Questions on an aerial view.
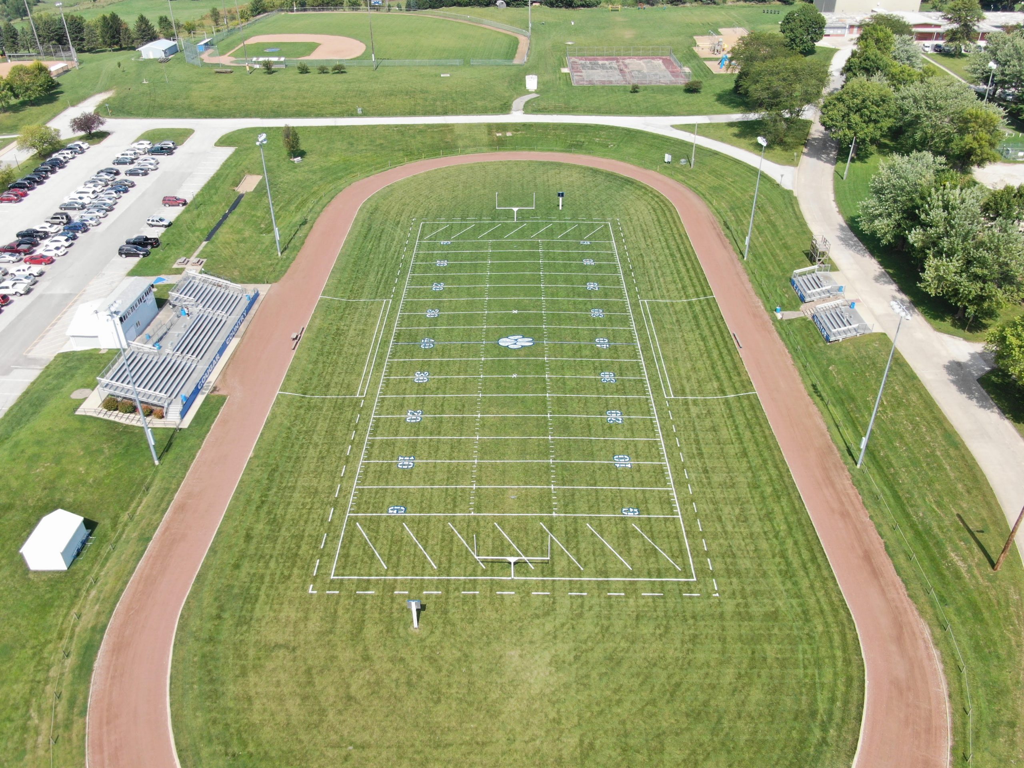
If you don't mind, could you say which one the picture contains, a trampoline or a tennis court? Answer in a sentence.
Visible in the photo is a tennis court.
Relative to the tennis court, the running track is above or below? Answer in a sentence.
You can see the running track below the tennis court in the frame.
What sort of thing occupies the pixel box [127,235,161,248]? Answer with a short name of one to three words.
vehicle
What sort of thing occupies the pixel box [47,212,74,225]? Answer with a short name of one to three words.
vehicle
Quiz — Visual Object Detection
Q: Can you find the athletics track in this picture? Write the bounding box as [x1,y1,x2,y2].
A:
[87,152,946,768]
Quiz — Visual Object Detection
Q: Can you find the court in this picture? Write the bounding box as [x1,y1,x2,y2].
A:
[568,56,689,86]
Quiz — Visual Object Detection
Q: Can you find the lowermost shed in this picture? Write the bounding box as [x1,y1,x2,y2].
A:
[20,508,95,569]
